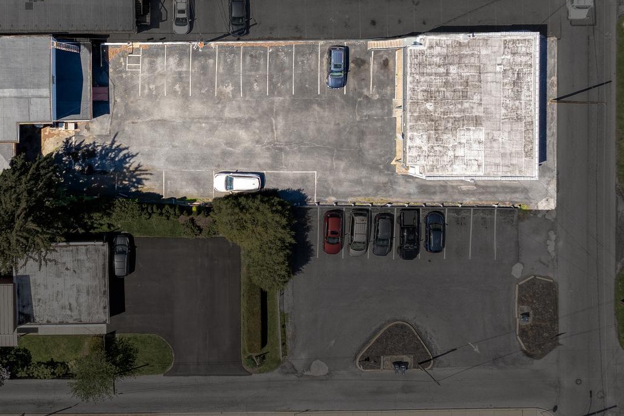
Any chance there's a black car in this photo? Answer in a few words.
Yes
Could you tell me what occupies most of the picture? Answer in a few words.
paved ground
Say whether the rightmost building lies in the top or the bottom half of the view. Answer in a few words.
top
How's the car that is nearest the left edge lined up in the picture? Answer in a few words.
vertically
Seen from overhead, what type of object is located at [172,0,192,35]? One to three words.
car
